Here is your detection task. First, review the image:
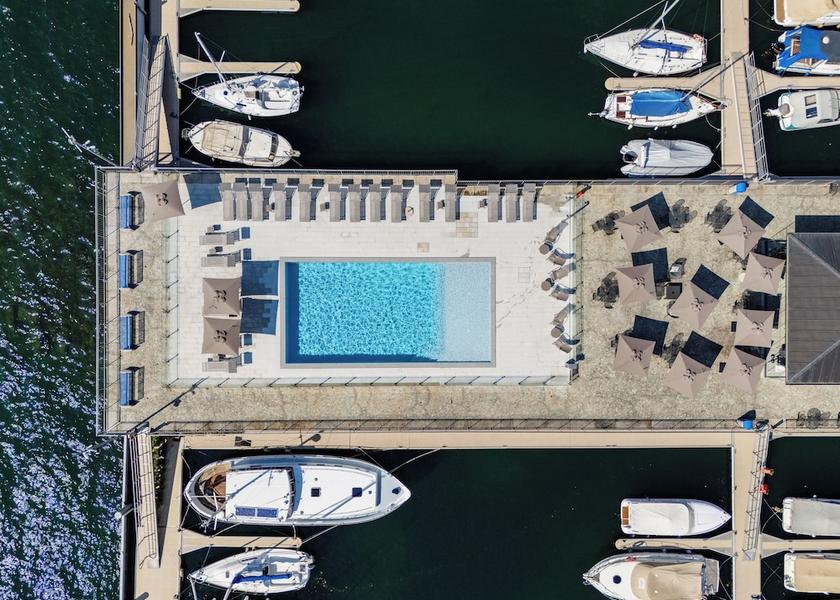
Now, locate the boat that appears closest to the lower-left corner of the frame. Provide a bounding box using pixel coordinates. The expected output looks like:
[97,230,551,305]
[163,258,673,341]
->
[181,547,317,600]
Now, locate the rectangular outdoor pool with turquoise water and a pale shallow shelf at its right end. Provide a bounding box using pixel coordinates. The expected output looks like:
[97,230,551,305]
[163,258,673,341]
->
[280,257,495,368]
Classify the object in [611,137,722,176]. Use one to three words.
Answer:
boat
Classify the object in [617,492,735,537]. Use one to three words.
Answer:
boat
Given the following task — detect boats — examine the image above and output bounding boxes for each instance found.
[587,51,755,132]
[180,447,437,539]
[751,28,840,78]
[582,547,735,600]
[179,121,303,170]
[617,492,735,537]
[178,31,305,152]
[181,547,317,600]
[748,0,840,30]
[762,549,840,600]
[755,88,840,132]
[584,0,722,79]
[611,137,722,176]
[760,491,840,537]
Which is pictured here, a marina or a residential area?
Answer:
marina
